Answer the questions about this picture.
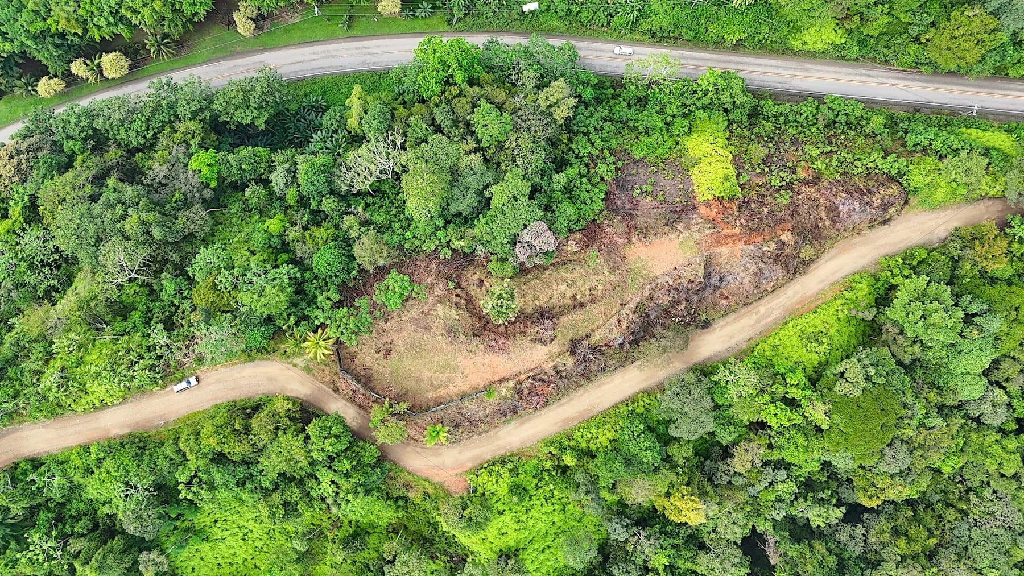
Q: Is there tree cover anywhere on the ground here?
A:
Yes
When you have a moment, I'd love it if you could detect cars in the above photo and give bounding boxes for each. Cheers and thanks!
[174,375,201,393]
[613,45,635,57]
